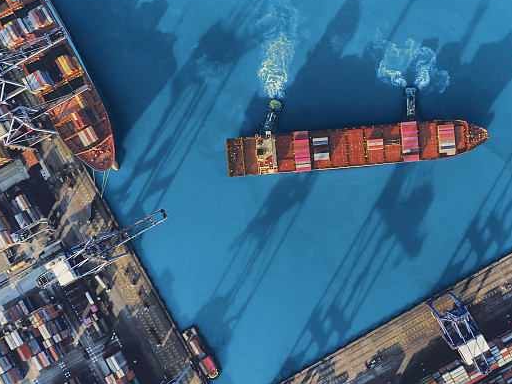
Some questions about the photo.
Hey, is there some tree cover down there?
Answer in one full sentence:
No, no tree cover is visible.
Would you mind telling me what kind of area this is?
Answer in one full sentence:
The picture captures a port.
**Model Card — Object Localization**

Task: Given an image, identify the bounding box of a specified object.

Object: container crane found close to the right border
[425,290,492,375]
